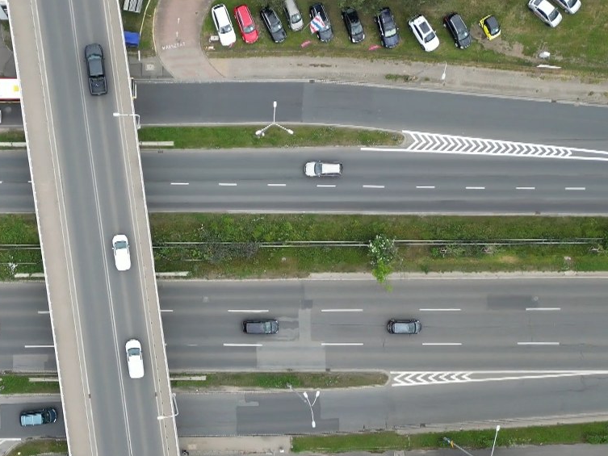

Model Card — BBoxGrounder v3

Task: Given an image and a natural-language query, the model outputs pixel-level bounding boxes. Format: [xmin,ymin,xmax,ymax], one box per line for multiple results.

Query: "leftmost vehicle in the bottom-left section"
[19,407,58,426]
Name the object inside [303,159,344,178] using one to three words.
car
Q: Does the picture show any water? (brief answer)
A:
No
